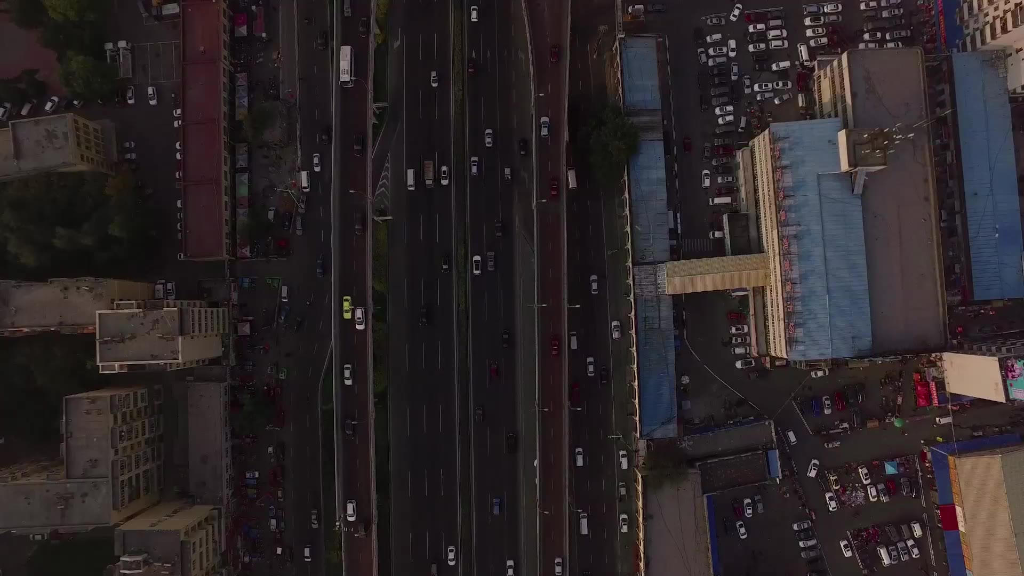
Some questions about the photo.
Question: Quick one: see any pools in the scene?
No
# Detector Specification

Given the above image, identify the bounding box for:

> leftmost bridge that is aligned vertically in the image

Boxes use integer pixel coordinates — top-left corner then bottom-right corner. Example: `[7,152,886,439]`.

[326,0,382,576]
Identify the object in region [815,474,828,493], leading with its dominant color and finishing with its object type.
black vehicle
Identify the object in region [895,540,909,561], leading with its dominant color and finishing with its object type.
gray car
